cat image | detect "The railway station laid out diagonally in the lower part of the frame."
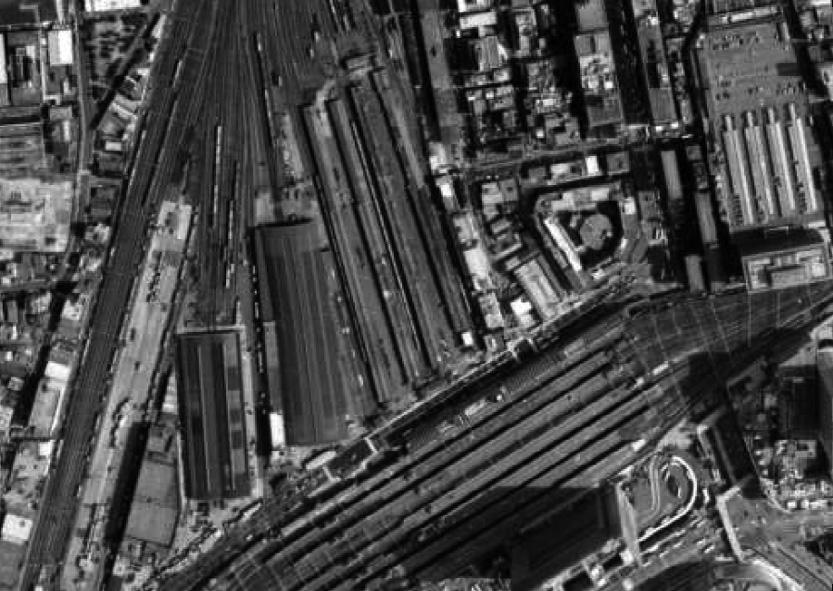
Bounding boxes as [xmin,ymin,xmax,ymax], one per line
[226,319,656,591]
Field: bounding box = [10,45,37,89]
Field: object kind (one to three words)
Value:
building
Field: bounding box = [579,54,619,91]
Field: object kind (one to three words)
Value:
building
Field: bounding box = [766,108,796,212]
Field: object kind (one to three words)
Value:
shed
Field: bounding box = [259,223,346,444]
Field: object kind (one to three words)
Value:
shed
